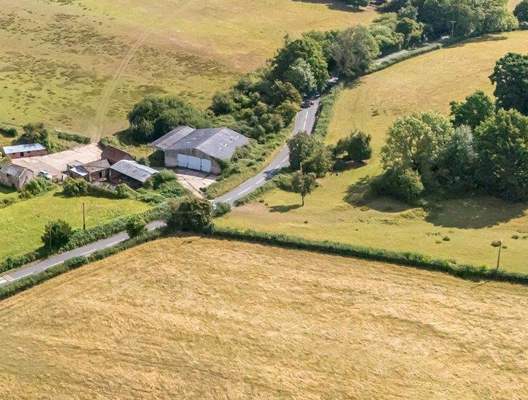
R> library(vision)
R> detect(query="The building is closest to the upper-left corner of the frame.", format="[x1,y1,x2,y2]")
[2,138,50,160]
